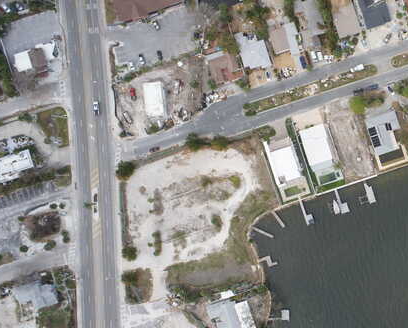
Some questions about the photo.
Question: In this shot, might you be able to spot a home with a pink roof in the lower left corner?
No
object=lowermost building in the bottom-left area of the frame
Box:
[14,281,61,309]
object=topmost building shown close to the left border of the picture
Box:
[14,43,58,73]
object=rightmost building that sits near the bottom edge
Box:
[208,291,257,328]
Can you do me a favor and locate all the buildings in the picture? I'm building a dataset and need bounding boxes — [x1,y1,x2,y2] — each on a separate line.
[359,0,391,29]
[270,24,301,56]
[14,281,61,309]
[238,32,271,69]
[330,0,357,38]
[208,291,257,328]
[204,51,245,84]
[271,146,303,185]
[143,80,166,117]
[111,0,187,25]
[295,0,326,36]
[14,43,58,73]
[0,150,37,180]
[366,112,400,155]
[301,125,333,167]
